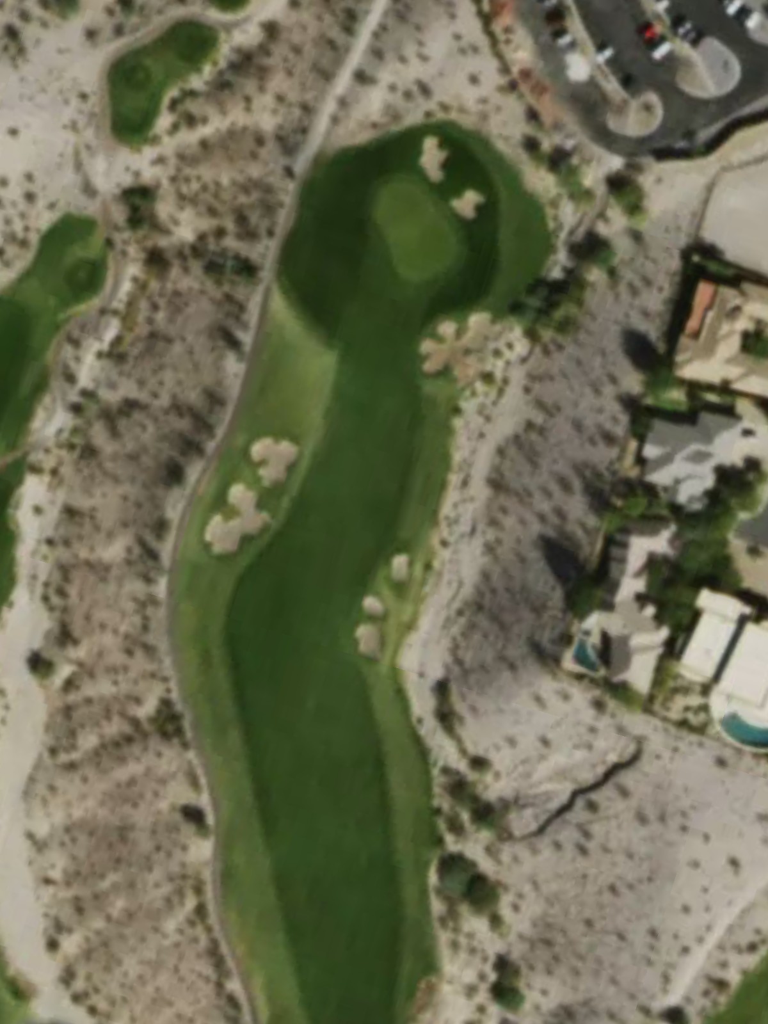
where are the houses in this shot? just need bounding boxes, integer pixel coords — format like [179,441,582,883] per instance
[644,410,748,511]
[681,588,754,683]
[598,514,679,698]
[721,623,768,708]
[680,278,768,398]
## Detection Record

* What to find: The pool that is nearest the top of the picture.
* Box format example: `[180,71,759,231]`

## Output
[572,637,602,674]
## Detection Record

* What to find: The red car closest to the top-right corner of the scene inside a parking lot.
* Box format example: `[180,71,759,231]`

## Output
[639,23,659,38]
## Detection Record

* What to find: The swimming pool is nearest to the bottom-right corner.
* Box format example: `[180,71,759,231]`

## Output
[722,710,768,753]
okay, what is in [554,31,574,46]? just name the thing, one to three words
car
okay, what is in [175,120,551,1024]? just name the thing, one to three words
golf course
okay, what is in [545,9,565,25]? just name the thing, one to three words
car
